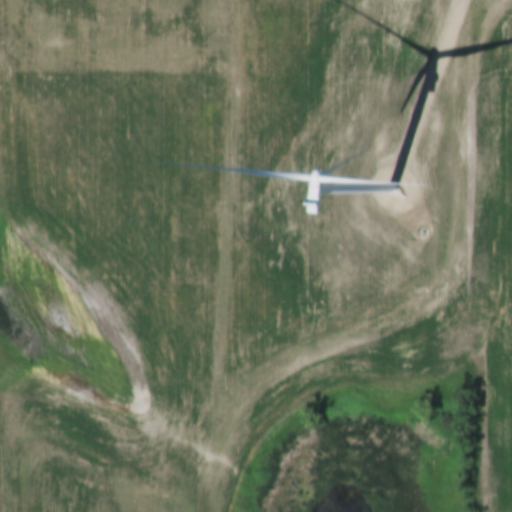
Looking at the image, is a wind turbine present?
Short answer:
Yes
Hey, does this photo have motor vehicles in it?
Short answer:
No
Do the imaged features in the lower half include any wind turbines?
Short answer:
No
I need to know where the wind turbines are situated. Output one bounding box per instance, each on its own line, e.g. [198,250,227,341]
[156,148,430,215]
